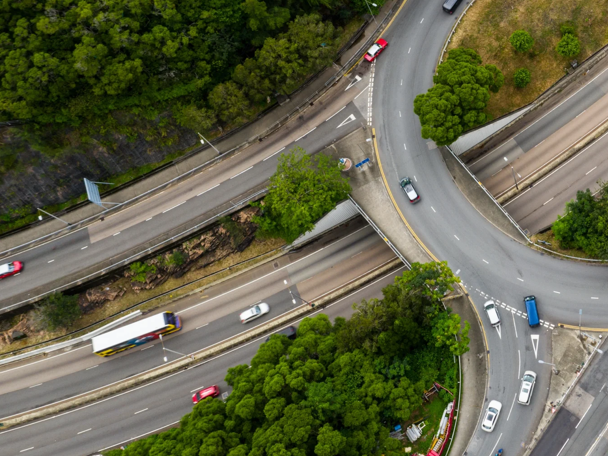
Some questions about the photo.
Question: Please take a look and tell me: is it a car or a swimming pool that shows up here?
car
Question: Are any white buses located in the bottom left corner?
Yes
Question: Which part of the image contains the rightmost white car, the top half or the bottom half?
bottom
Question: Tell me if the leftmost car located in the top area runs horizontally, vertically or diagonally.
diagonally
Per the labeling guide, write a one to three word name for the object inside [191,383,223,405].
car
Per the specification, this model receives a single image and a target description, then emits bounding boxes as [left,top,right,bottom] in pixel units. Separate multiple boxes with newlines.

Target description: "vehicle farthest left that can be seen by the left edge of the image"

[0,260,26,280]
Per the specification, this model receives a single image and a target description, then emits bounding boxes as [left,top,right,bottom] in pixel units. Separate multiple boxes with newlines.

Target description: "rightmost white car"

[516,368,538,407]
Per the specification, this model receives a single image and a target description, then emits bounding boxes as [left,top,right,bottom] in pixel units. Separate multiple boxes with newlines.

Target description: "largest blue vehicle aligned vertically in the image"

[521,295,540,330]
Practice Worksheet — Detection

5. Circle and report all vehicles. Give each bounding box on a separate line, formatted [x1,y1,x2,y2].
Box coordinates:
[516,368,538,407]
[191,383,223,405]
[479,396,504,437]
[399,175,420,208]
[92,308,188,359]
[363,38,391,64]
[483,298,502,331]
[442,0,462,16]
[237,300,272,325]
[0,260,26,280]
[521,295,540,330]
